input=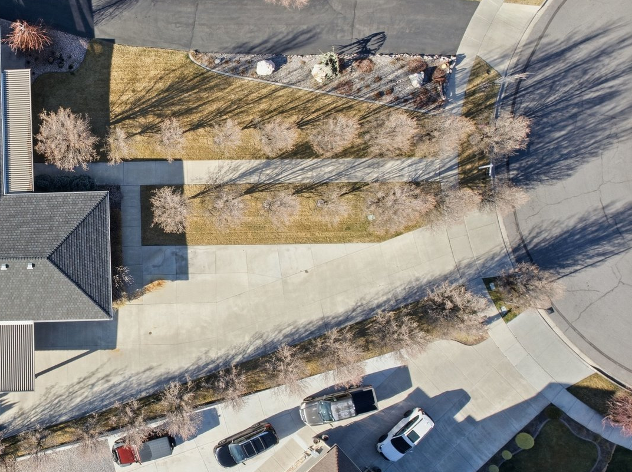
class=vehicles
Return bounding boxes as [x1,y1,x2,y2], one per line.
[296,382,381,425]
[376,405,436,460]
[112,433,173,467]
[211,420,282,465]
